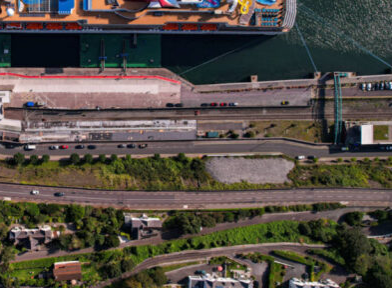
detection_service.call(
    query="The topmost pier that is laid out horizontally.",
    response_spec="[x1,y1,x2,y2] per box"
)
[79,35,162,67]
